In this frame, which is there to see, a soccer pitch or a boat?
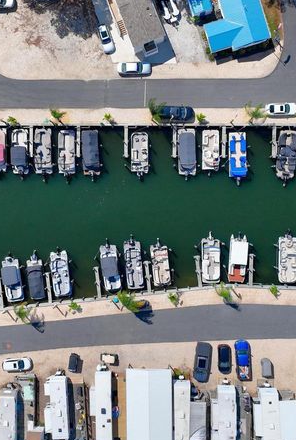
boat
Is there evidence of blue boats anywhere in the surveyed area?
Yes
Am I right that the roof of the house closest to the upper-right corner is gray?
No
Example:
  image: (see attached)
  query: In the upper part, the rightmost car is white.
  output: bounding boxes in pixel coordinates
[264,102,296,117]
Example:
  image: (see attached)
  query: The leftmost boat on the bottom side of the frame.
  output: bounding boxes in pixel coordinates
[0,249,26,306]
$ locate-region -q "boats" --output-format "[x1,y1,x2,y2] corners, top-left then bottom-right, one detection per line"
[200,127,220,180]
[99,234,123,296]
[274,128,296,191]
[49,241,73,301]
[128,126,149,184]
[123,231,146,292]
[0,249,26,306]
[177,126,196,186]
[150,236,172,291]
[80,126,101,186]
[26,249,47,302]
[227,231,250,286]
[7,127,30,184]
[32,127,54,184]
[277,226,296,285]
[200,228,220,284]
[56,127,76,184]
[227,127,247,188]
